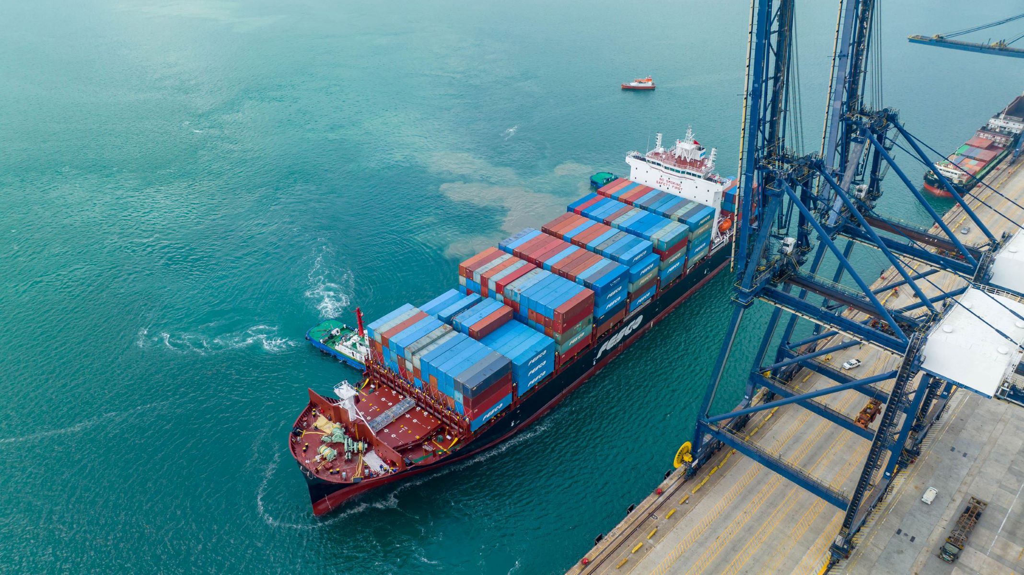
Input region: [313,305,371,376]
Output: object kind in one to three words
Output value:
boat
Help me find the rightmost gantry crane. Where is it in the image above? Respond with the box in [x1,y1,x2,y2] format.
[908,8,1024,60]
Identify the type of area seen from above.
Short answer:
port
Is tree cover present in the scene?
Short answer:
No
